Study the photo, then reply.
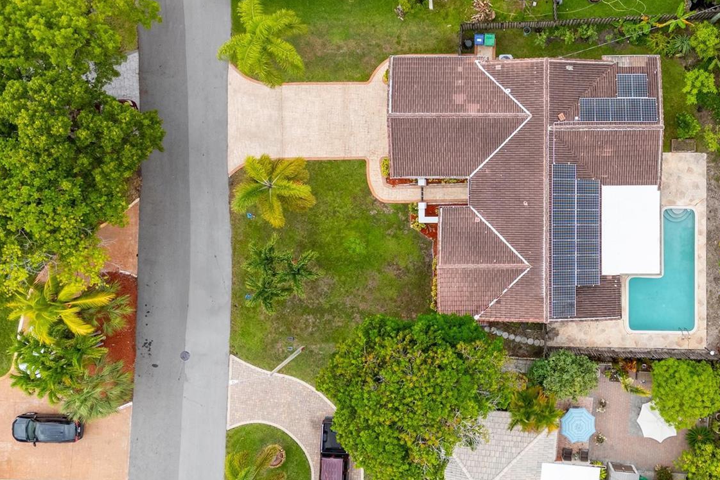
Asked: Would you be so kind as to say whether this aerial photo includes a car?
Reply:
Yes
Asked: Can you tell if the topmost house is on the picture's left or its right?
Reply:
right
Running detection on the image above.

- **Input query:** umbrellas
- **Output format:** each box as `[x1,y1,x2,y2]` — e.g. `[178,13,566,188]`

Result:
[631,396,677,445]
[560,405,595,440]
